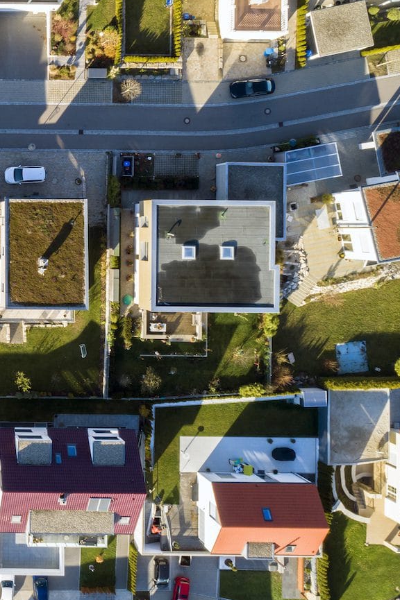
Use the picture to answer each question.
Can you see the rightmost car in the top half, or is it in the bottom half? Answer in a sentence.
The top half of the photo is where the rightmost car is.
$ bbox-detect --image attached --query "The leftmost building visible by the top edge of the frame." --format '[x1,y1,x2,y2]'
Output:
[209,0,289,45]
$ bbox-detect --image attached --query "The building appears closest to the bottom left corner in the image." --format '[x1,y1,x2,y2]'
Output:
[0,421,147,576]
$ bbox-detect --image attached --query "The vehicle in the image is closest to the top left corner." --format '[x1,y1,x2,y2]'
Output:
[4,164,48,184]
